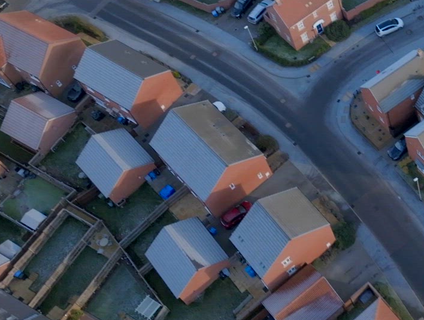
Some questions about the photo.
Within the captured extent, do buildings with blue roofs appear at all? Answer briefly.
Yes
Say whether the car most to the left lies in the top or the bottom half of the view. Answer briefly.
top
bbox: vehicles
[64,79,85,105]
[384,135,409,163]
[247,0,274,23]
[221,200,251,229]
[374,16,405,36]
[231,0,256,17]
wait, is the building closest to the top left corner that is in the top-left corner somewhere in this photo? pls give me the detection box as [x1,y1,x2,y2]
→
[0,9,85,96]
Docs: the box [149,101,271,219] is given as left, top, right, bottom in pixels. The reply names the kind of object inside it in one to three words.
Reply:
house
